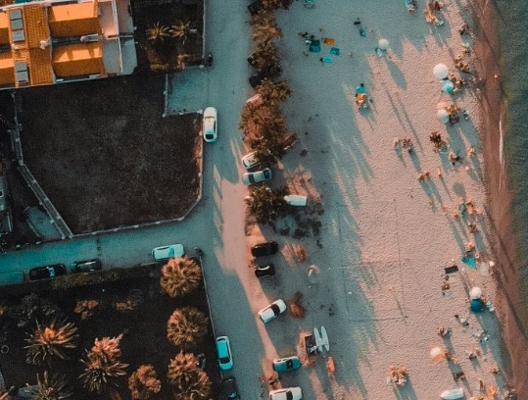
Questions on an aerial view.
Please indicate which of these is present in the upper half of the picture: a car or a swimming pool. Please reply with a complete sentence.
Visible in the upper half of the picture is a car.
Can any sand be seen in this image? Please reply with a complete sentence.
Yes, the picture does contain sand.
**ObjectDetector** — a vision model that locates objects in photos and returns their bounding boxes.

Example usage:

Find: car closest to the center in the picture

[243,168,272,185]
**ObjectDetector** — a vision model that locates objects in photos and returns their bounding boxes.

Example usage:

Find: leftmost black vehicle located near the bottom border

[223,378,240,400]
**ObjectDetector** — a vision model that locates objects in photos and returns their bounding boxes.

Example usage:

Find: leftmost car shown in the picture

[0,270,24,286]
